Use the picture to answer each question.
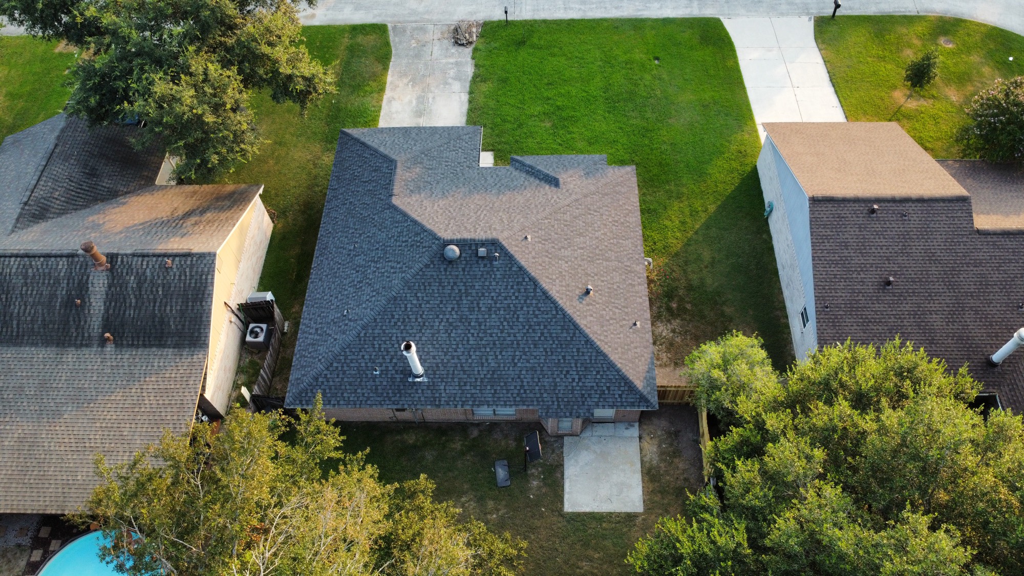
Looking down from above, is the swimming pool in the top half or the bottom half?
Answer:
bottom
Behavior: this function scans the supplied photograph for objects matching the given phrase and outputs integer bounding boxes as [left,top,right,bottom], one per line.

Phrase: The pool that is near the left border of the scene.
[38,525,199,576]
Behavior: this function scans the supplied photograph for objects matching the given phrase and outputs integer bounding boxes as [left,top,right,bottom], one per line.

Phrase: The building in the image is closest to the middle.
[282,125,659,436]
